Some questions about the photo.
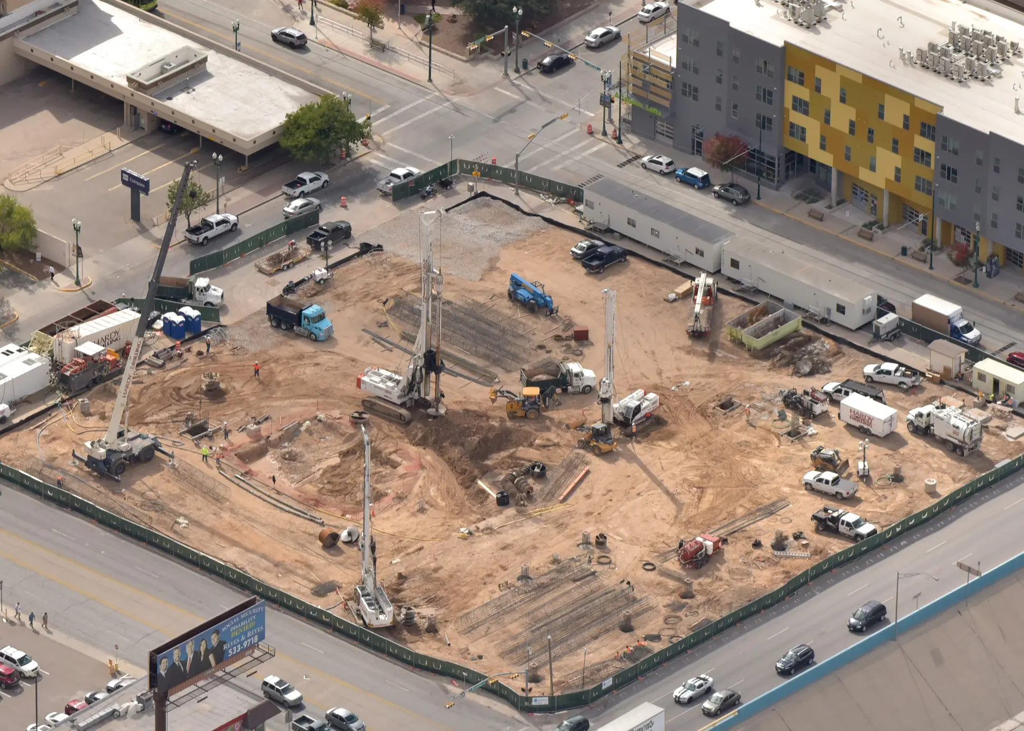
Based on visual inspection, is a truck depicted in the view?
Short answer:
Yes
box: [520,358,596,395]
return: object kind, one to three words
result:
truck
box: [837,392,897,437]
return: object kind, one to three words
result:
trailer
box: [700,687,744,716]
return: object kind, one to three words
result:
car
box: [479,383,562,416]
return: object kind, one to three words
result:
work vehicle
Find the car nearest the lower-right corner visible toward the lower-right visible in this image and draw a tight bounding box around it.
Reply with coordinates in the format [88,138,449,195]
[847,599,889,632]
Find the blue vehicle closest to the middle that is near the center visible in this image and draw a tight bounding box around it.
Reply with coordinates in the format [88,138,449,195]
[505,269,562,320]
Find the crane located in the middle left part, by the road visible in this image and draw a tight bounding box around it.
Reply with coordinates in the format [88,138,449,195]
[72,156,202,484]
